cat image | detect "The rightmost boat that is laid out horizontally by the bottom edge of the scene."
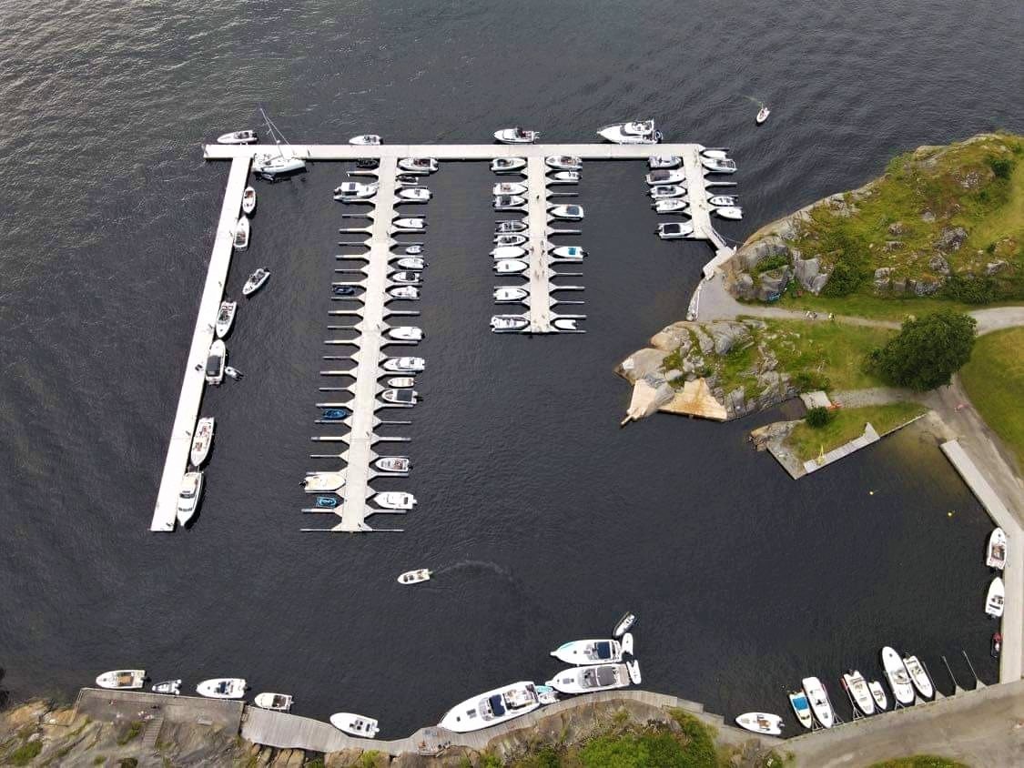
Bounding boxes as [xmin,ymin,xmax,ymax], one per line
[735,710,785,734]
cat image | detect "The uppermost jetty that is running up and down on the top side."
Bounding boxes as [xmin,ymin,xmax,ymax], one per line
[683,156,711,241]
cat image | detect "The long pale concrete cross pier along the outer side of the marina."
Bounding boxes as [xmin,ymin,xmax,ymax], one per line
[204,143,700,160]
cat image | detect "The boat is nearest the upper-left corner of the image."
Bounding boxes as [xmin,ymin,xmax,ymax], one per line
[218,131,258,144]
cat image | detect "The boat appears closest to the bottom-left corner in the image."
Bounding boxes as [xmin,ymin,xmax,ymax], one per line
[94,668,149,690]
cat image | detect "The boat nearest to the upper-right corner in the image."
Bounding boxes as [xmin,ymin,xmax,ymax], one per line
[756,105,771,123]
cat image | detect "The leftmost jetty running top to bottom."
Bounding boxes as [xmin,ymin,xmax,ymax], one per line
[151,158,251,532]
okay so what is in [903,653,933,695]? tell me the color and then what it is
white boat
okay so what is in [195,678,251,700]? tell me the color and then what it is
white boat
